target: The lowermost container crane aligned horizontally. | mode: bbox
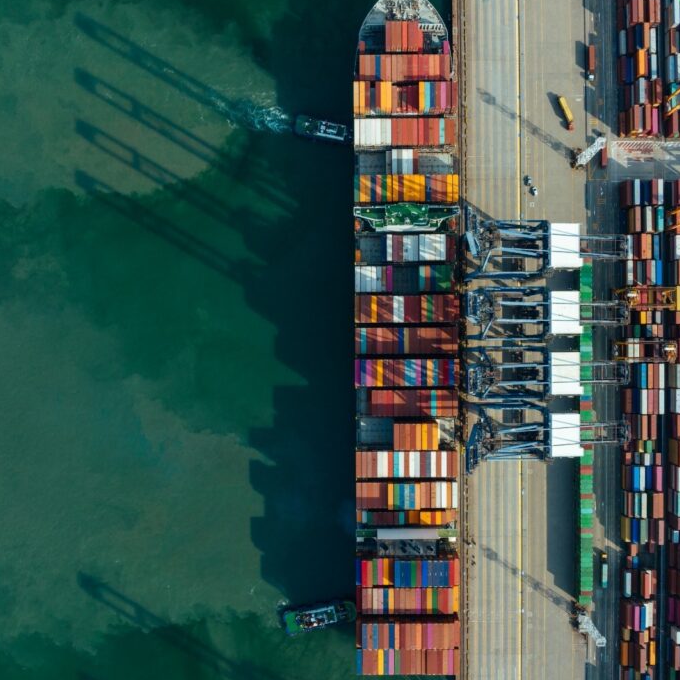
[460,393,632,471]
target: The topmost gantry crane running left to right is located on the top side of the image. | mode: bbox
[460,206,632,289]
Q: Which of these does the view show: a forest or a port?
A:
port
